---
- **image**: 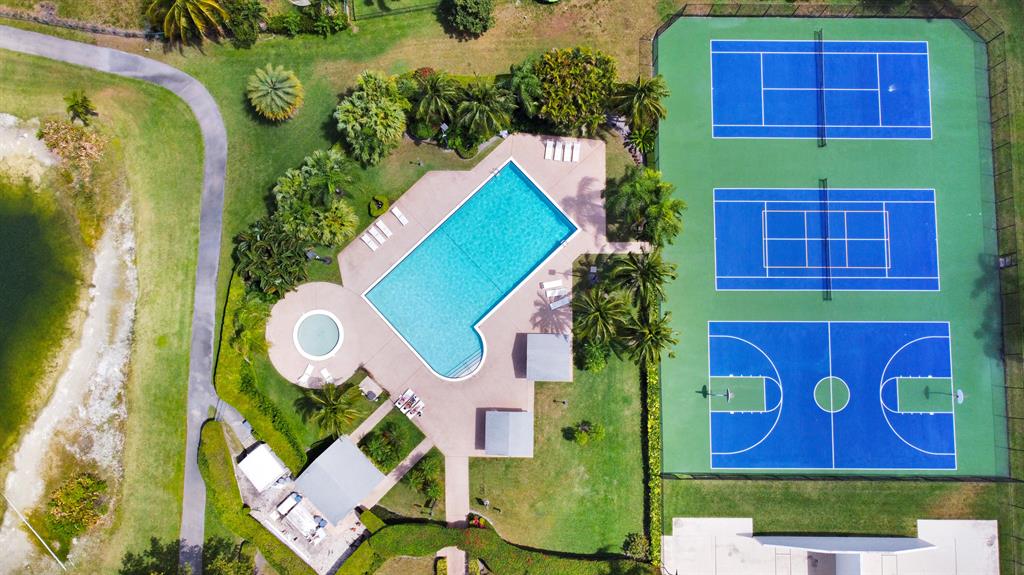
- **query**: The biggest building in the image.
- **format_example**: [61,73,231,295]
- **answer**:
[295,438,386,526]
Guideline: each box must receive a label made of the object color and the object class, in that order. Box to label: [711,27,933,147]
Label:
blue tennis court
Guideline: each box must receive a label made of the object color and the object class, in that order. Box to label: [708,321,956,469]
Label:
blue basketball court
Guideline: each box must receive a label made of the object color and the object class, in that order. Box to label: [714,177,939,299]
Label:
blue tennis court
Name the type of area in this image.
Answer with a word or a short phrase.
sports ground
